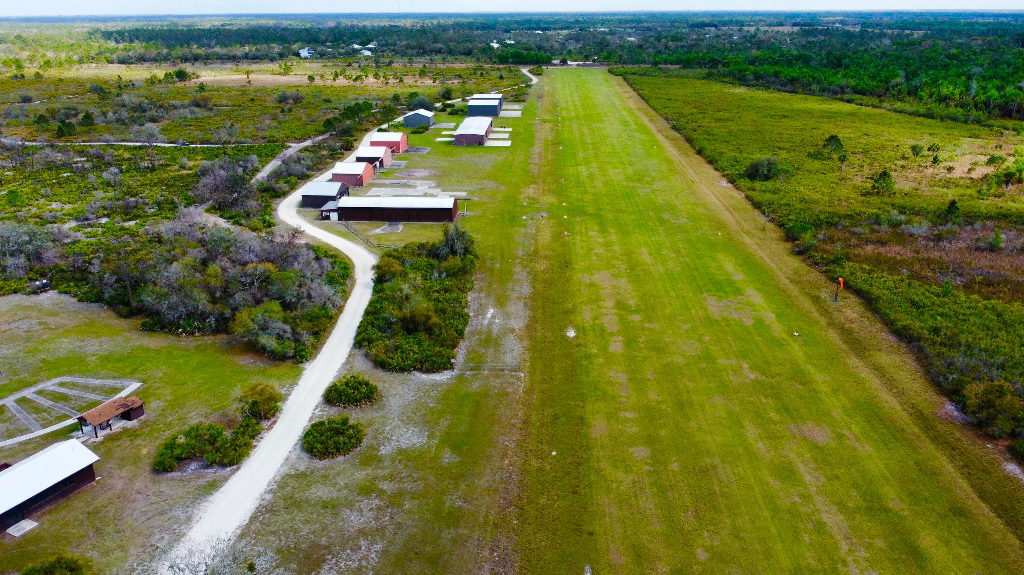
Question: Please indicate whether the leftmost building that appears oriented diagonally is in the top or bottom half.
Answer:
bottom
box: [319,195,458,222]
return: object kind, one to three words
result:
hangar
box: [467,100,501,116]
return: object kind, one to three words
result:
hangar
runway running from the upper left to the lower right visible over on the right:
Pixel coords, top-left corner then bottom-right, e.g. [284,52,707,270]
[554,68,976,575]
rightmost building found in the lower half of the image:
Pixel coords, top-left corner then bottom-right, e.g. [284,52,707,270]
[77,394,145,440]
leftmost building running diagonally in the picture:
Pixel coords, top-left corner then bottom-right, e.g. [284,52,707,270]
[0,446,101,534]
